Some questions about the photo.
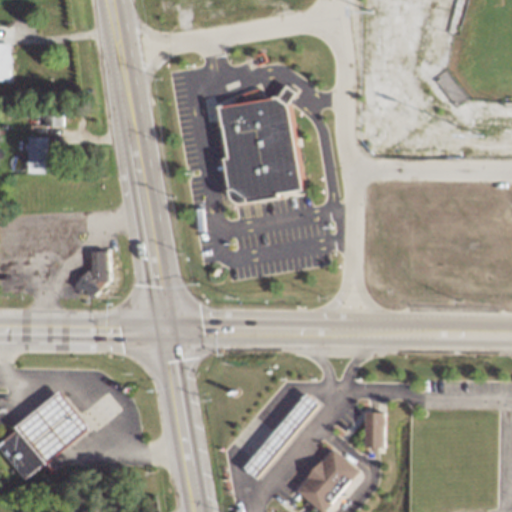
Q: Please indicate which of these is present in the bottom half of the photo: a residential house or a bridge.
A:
residential house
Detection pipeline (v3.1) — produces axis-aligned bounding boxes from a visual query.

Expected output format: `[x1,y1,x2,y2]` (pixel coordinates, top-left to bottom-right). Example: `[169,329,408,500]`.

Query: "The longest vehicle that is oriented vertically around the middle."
[196,203,210,241]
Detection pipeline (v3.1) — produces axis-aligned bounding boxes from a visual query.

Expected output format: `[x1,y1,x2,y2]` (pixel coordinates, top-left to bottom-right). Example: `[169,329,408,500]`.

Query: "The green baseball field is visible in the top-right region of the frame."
[448,0,512,100]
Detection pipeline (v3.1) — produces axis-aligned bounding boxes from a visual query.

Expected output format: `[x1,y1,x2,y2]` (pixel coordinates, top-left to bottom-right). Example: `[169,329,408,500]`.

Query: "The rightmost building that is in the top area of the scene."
[217,86,308,204]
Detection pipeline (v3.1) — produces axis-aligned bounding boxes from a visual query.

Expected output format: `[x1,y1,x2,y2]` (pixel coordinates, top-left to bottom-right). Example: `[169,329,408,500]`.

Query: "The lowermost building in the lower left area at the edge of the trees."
[0,430,48,480]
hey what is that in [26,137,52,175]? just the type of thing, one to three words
house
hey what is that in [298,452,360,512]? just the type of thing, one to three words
building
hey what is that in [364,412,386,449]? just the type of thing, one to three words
house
